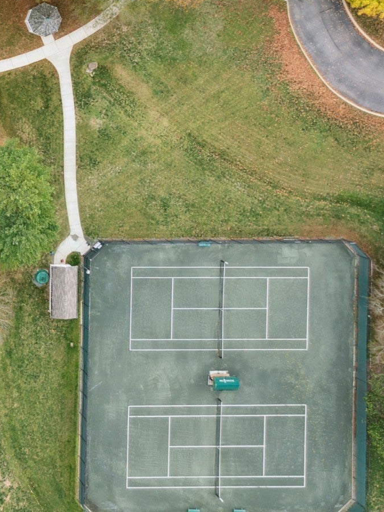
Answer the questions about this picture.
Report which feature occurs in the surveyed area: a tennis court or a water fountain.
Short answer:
tennis court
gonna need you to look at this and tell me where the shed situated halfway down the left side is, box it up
[47,263,78,320]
